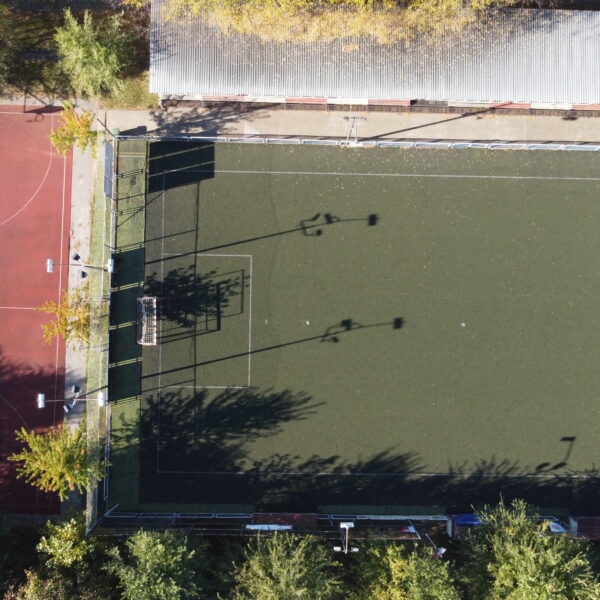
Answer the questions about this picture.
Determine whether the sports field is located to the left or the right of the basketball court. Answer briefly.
on its right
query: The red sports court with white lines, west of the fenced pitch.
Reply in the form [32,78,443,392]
[0,105,74,513]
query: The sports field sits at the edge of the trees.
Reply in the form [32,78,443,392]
[103,141,600,521]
